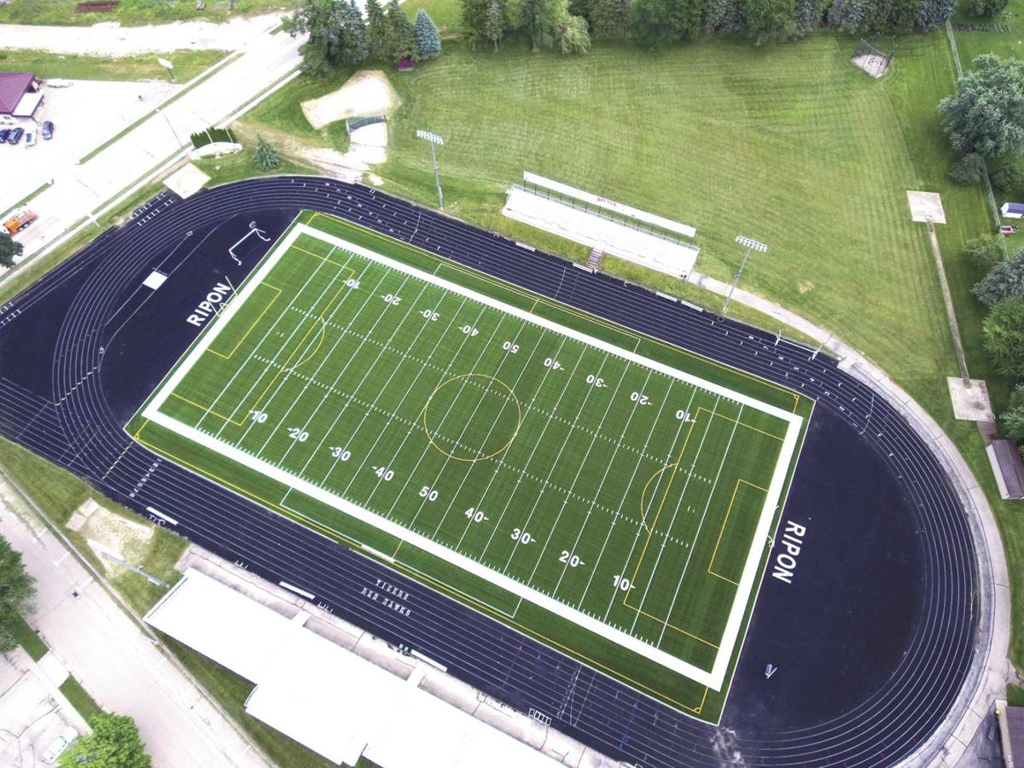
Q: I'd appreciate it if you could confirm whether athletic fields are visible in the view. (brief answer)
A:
Yes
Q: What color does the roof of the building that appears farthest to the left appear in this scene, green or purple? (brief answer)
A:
purple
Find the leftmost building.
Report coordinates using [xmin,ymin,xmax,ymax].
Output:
[0,72,51,126]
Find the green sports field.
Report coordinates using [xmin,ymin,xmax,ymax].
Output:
[122,208,816,724]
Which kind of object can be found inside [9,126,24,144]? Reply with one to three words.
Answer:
car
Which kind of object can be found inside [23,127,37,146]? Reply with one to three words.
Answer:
car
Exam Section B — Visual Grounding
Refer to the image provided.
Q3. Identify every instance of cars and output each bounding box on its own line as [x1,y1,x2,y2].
[41,726,77,764]
[23,127,37,146]
[0,127,11,143]
[9,126,24,144]
[42,121,54,138]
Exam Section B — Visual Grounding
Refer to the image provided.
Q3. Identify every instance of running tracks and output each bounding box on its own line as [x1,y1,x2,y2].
[0,176,981,768]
